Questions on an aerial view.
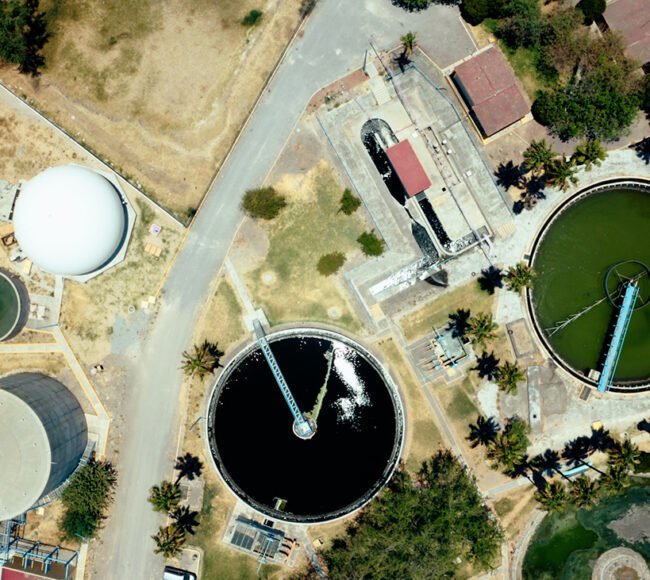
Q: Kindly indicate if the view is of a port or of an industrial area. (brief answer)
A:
industrial area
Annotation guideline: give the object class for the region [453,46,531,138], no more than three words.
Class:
building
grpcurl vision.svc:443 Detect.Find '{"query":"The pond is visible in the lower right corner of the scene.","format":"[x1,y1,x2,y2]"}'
[517,471,650,580]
